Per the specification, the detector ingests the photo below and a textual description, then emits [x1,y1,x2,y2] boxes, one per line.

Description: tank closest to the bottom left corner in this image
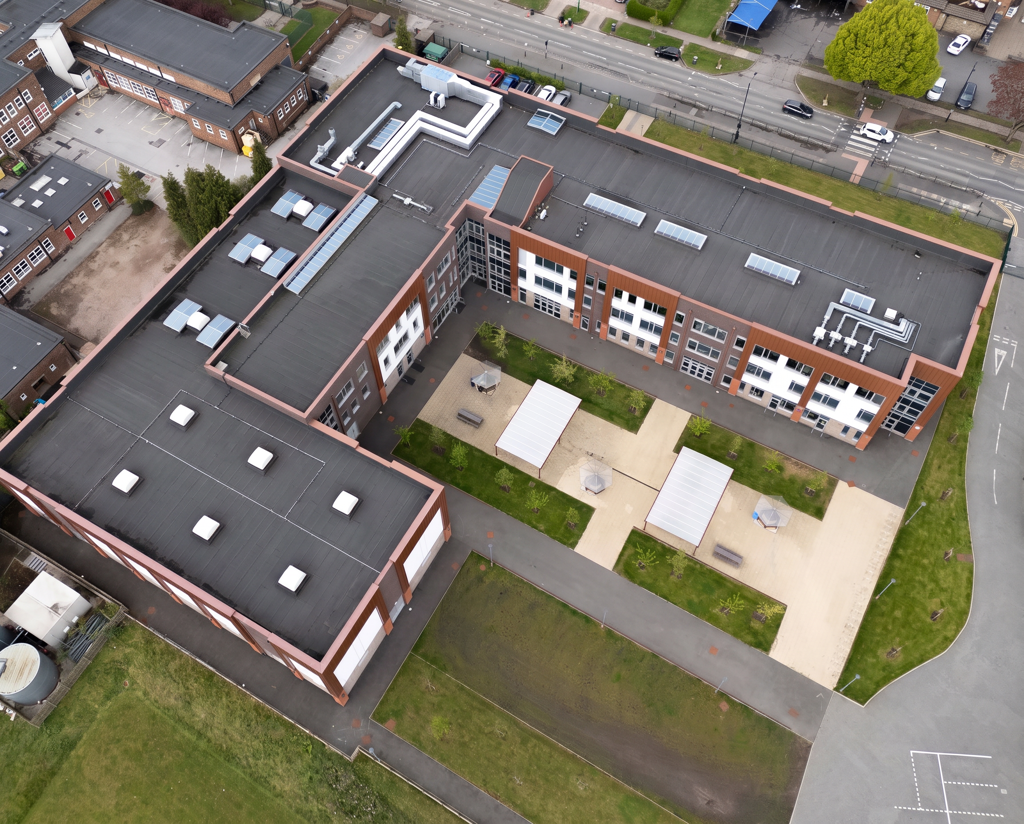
[0,639,55,704]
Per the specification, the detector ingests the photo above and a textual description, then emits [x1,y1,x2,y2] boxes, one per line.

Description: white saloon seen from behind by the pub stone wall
[949,35,970,54]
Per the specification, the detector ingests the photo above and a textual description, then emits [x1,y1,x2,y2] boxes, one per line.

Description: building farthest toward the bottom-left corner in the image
[2,570,92,648]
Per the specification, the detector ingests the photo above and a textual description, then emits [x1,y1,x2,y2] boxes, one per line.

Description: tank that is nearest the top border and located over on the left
[0,615,32,643]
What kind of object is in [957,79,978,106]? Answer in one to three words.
car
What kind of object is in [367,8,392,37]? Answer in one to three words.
shed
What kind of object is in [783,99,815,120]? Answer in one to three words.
car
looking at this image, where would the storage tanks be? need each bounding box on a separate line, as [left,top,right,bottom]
[0,615,32,643]
[0,639,55,704]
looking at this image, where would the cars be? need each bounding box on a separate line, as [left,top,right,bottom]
[536,85,556,103]
[957,79,978,106]
[783,99,815,120]
[654,44,681,61]
[512,78,533,97]
[927,73,947,97]
[861,123,894,144]
[949,35,970,54]
[497,74,519,91]
[483,67,504,87]
[551,91,571,109]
